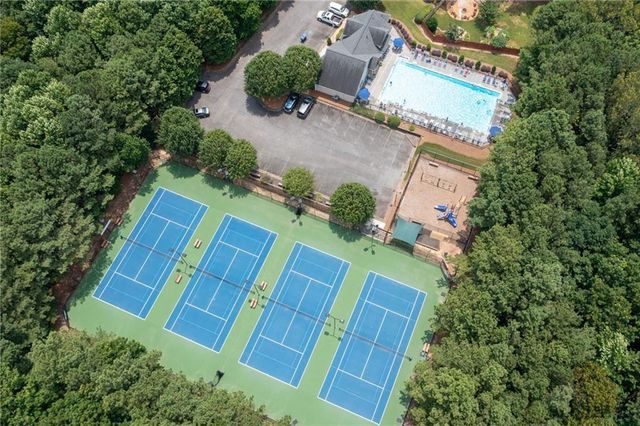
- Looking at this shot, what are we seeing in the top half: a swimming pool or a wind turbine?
swimming pool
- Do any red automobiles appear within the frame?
No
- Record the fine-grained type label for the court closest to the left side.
tennis court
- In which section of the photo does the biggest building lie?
top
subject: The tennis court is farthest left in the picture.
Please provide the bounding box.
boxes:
[92,187,209,320]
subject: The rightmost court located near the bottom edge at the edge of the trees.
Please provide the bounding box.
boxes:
[318,270,427,425]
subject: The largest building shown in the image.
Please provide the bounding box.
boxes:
[314,11,392,104]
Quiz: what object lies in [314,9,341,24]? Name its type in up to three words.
vehicle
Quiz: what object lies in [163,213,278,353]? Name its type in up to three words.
tennis court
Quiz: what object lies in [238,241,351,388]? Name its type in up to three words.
tennis court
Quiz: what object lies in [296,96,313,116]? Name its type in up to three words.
car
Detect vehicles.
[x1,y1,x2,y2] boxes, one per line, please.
[314,9,341,24]
[282,91,298,112]
[189,105,210,116]
[327,0,349,16]
[296,96,313,116]
[188,81,211,91]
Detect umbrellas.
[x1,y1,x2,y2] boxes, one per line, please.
[488,126,501,139]
[358,87,371,101]
[391,39,404,52]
